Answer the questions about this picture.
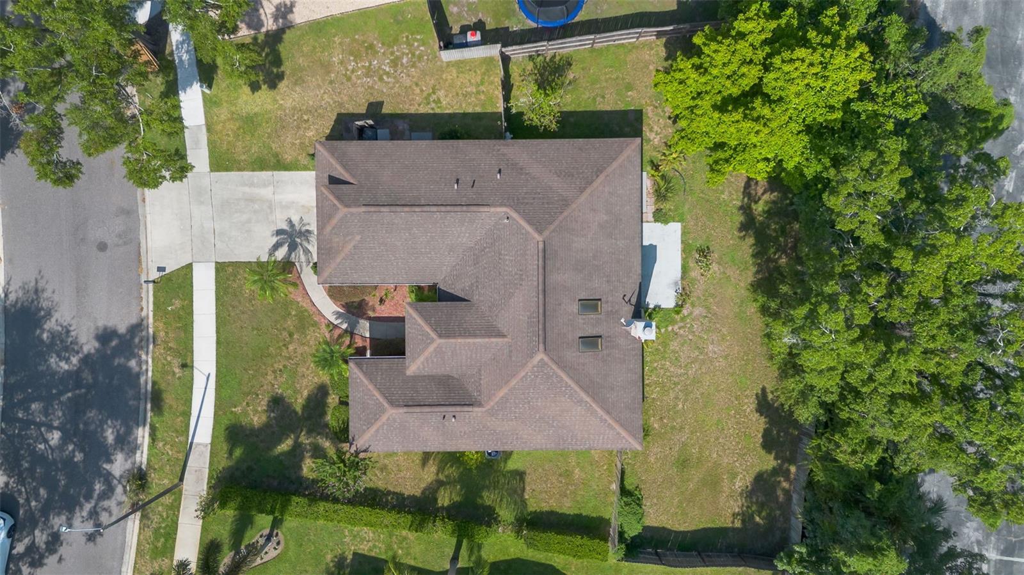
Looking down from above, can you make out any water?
No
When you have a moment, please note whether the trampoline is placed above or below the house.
above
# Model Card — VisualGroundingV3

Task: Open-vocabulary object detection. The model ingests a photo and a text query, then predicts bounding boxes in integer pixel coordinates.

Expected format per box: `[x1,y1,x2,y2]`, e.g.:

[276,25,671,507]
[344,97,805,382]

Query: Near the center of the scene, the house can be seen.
[315,137,656,452]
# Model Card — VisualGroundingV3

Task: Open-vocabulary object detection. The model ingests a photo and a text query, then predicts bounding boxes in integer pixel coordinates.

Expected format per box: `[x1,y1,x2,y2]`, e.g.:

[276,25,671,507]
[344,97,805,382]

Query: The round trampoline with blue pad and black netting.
[517,0,584,31]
